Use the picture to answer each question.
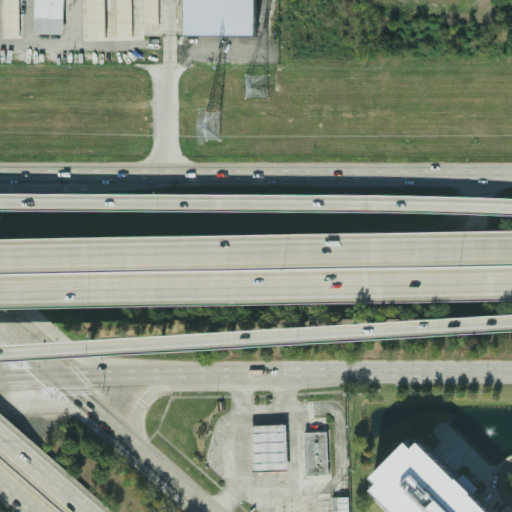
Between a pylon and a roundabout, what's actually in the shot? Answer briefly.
pylon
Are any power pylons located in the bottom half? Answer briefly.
No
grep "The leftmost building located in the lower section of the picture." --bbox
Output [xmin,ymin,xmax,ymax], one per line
[305,426,330,476]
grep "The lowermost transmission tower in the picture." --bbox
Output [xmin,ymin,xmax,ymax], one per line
[200,106,222,144]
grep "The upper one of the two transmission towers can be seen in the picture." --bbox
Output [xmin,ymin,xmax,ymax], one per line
[244,69,270,102]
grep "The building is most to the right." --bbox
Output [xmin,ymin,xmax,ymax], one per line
[367,442,488,512]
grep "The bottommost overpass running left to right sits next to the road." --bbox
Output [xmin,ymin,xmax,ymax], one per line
[0,314,512,360]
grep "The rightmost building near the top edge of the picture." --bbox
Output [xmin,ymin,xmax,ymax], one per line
[182,0,255,36]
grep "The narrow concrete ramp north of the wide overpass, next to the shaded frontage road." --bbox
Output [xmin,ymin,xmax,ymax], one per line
[0,194,512,216]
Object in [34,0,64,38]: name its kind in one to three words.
building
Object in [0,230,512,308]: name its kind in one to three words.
overpass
